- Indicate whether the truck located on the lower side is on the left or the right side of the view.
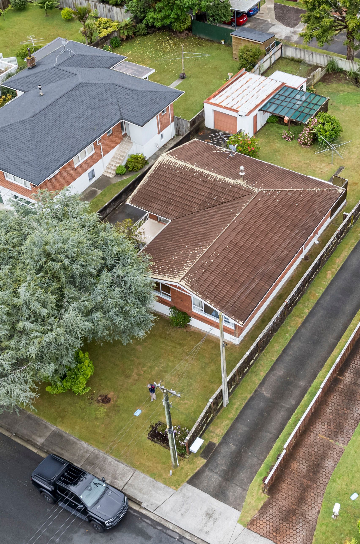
left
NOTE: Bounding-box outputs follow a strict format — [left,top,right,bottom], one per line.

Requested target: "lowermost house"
[115,140,351,346]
